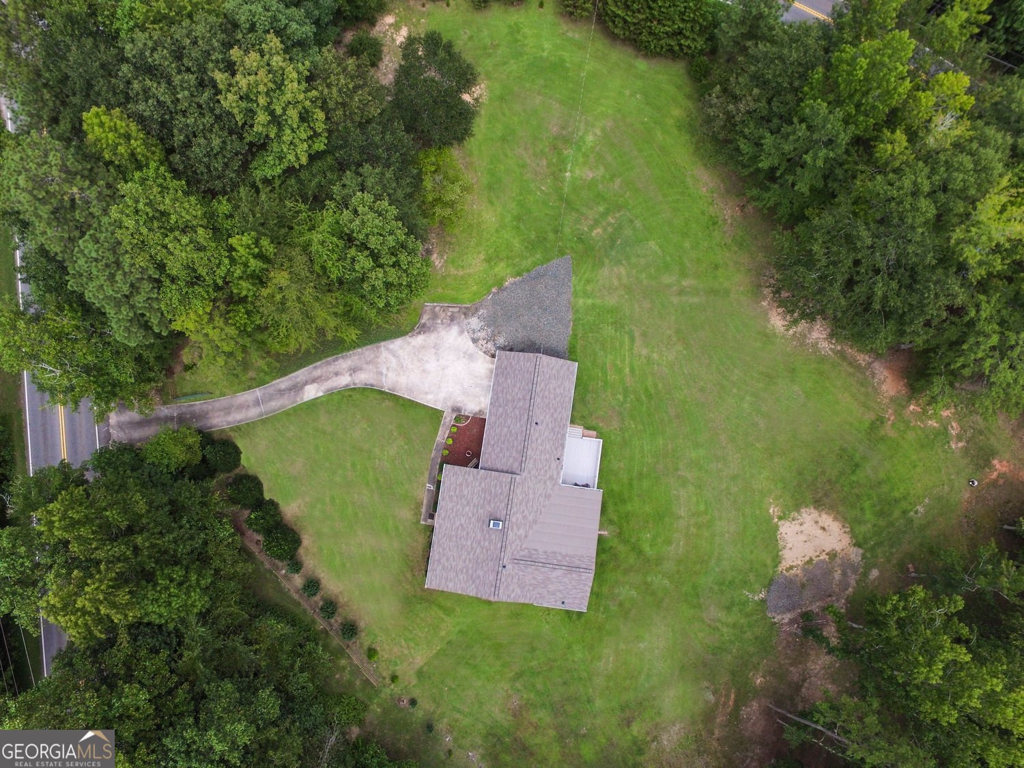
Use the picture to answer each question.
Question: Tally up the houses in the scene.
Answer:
1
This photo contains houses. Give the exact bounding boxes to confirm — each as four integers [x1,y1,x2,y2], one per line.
[424,351,603,614]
